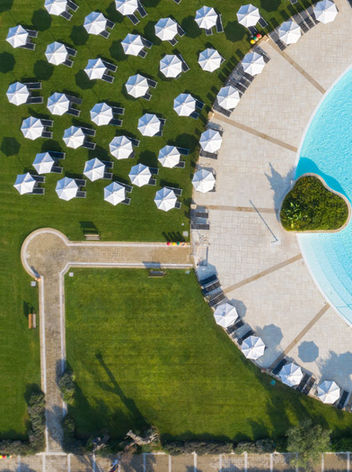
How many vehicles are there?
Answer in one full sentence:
There are no vehicles in the image.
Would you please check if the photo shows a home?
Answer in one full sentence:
No, no home can be seen from above.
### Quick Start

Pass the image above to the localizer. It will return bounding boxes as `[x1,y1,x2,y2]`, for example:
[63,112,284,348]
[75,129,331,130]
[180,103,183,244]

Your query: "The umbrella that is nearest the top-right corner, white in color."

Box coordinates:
[314,0,338,23]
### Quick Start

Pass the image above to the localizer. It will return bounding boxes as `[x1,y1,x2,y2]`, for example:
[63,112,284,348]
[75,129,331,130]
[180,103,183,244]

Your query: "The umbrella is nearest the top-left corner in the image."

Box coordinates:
[7,24,32,48]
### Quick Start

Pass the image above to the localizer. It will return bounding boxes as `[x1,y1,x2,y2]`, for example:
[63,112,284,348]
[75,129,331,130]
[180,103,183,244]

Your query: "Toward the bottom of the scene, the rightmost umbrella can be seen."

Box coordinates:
[317,380,341,403]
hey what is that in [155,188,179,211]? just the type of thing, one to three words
umbrella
